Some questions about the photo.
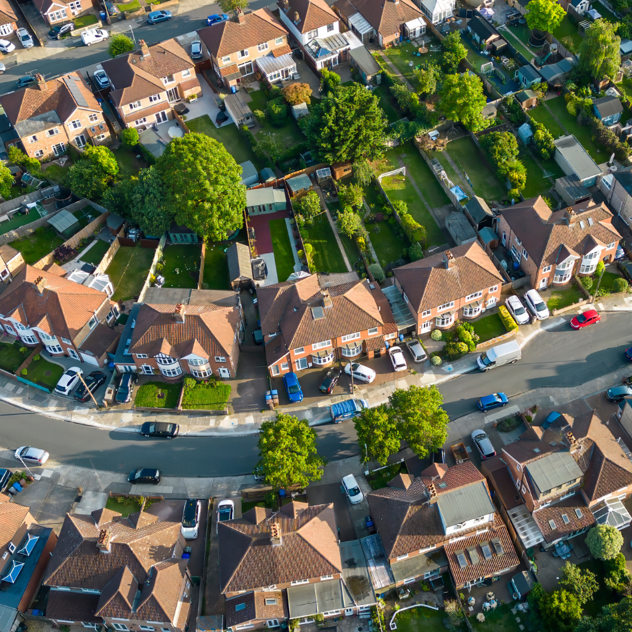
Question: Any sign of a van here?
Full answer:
Yes, the frame does contain a van.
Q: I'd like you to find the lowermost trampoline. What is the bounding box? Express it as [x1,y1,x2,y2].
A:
[223,228,241,244]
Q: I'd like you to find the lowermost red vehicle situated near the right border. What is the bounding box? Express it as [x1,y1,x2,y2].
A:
[569,310,603,330]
